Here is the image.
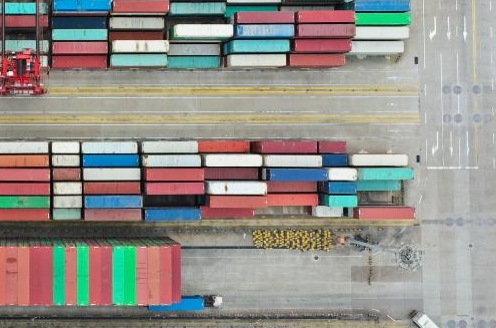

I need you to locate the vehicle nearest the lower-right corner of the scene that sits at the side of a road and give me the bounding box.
[409,308,441,328]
